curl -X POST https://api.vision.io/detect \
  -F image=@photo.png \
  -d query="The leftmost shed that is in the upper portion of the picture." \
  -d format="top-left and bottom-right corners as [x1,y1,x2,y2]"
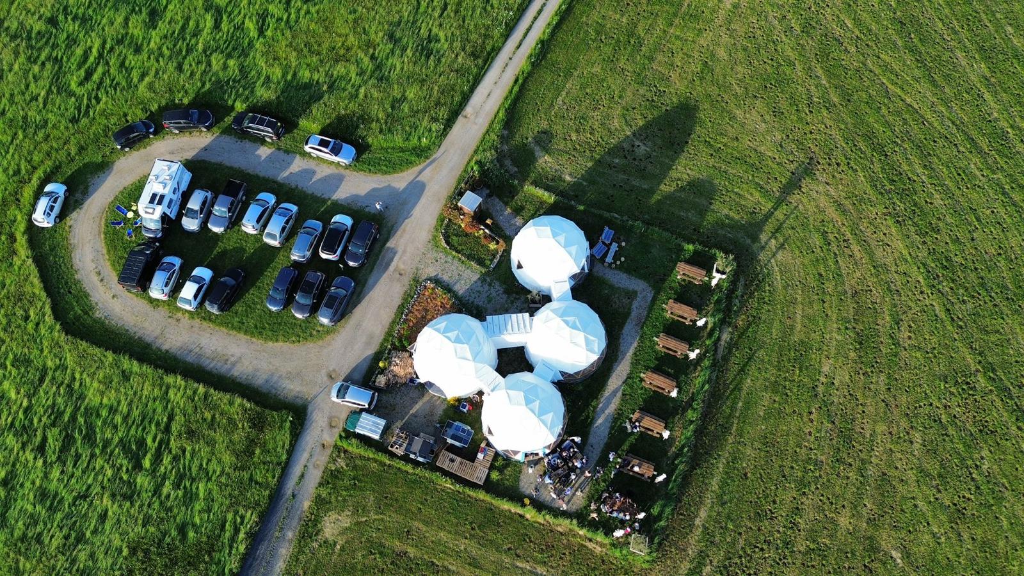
[458,190,483,223]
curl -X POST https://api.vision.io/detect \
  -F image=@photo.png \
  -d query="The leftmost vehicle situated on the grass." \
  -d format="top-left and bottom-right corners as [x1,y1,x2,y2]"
[29,185,68,228]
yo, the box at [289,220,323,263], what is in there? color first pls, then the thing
blue car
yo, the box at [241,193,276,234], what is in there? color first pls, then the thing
blue car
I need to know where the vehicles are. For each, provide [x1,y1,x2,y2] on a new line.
[241,193,276,234]
[203,268,246,315]
[162,107,216,134]
[177,267,214,312]
[317,277,354,325]
[114,241,162,292]
[232,111,286,142]
[332,380,378,411]
[207,178,249,233]
[289,220,323,263]
[29,185,68,228]
[149,257,184,300]
[139,159,194,241]
[266,266,301,311]
[263,204,298,248]
[345,220,378,267]
[319,215,353,260]
[302,130,358,166]
[182,189,215,232]
[292,269,327,318]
